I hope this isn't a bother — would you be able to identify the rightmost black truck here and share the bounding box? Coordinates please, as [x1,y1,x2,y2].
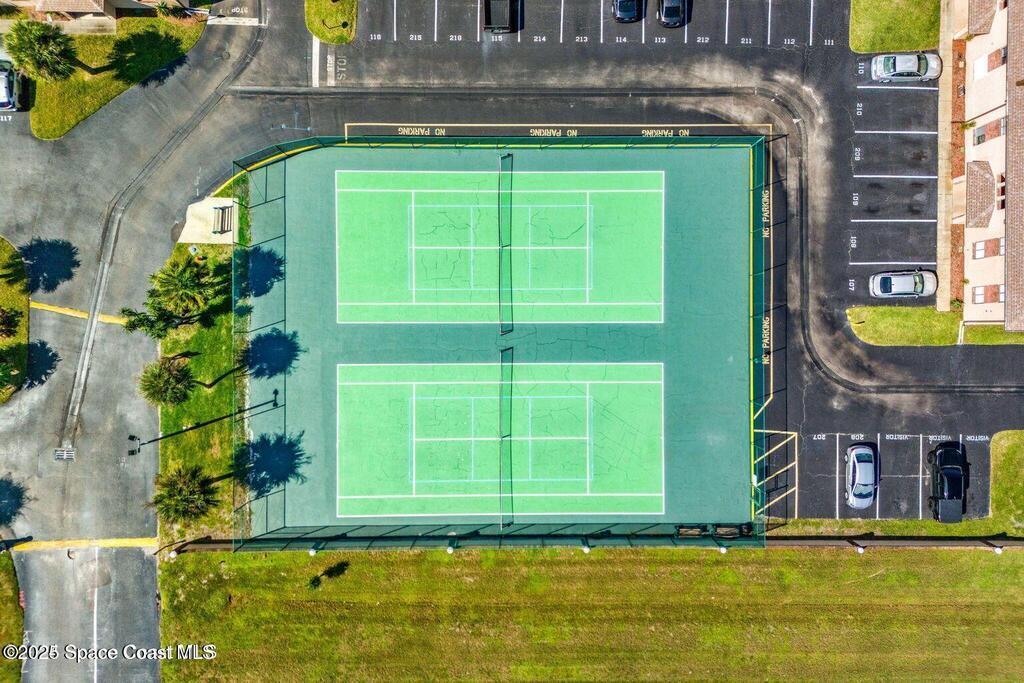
[926,445,970,523]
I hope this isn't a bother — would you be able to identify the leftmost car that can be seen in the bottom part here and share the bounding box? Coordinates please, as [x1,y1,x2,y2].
[843,445,877,509]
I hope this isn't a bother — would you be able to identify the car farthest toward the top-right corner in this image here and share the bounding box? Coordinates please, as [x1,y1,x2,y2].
[872,50,940,83]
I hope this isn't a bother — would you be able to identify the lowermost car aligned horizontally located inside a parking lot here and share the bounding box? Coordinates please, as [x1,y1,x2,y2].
[869,269,935,299]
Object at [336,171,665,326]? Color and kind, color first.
green tennis court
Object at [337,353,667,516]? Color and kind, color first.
green tennis court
